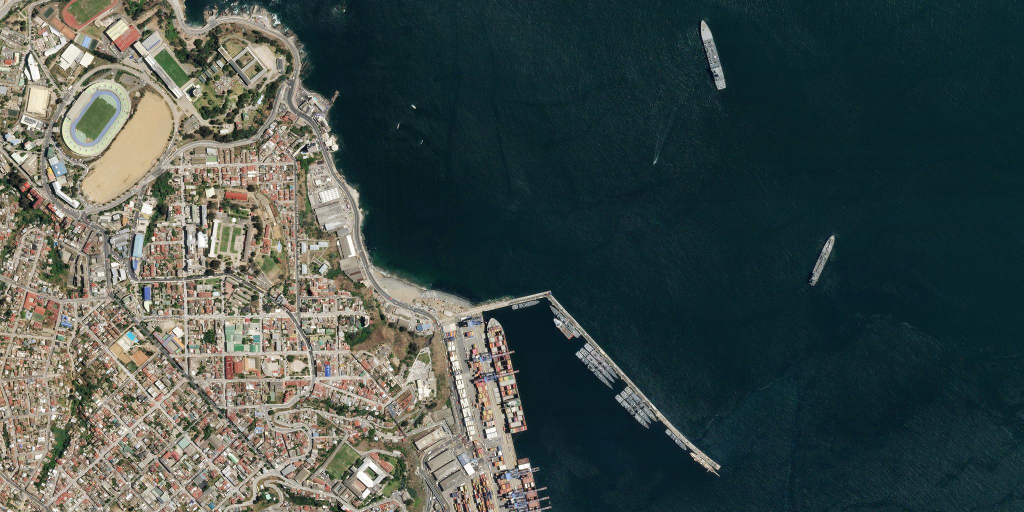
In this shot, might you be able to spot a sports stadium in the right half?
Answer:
No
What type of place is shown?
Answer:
port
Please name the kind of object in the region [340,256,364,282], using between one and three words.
building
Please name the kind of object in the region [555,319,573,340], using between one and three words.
vessel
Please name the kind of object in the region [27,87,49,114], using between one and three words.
building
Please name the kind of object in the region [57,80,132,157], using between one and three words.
stadium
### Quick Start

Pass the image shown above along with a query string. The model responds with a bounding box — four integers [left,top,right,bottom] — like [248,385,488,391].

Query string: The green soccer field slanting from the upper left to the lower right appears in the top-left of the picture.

[150,44,194,92]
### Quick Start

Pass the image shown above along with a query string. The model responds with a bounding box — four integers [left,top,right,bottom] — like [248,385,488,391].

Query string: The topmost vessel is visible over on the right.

[702,21,726,90]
